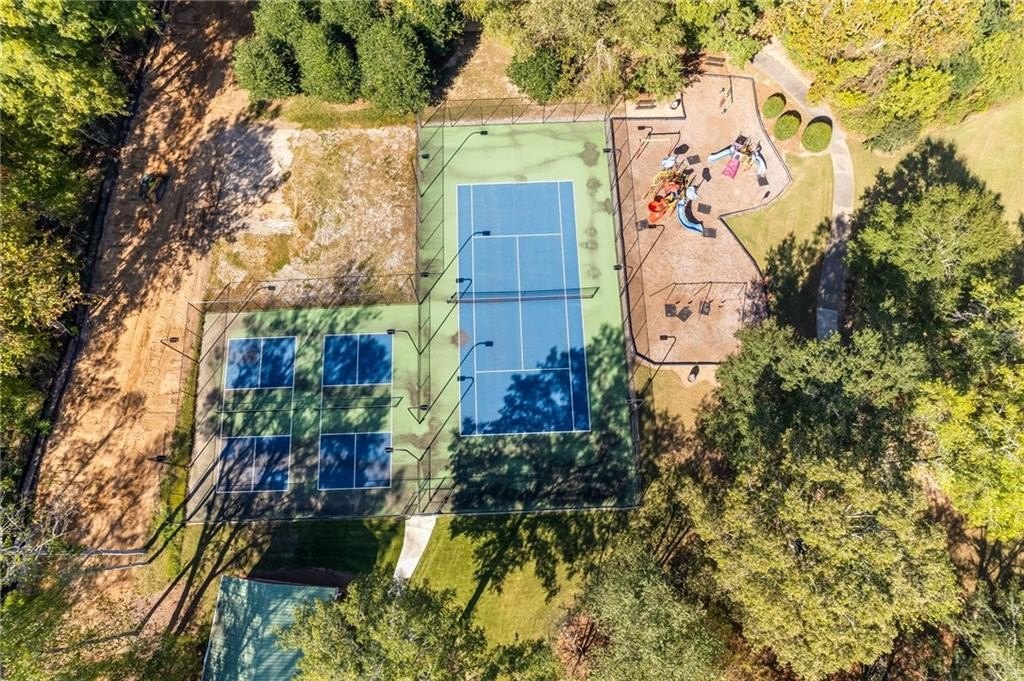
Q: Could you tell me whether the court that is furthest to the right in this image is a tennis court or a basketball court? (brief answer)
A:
tennis court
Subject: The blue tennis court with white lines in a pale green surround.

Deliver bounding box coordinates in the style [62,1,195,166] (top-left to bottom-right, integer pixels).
[420,120,640,514]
